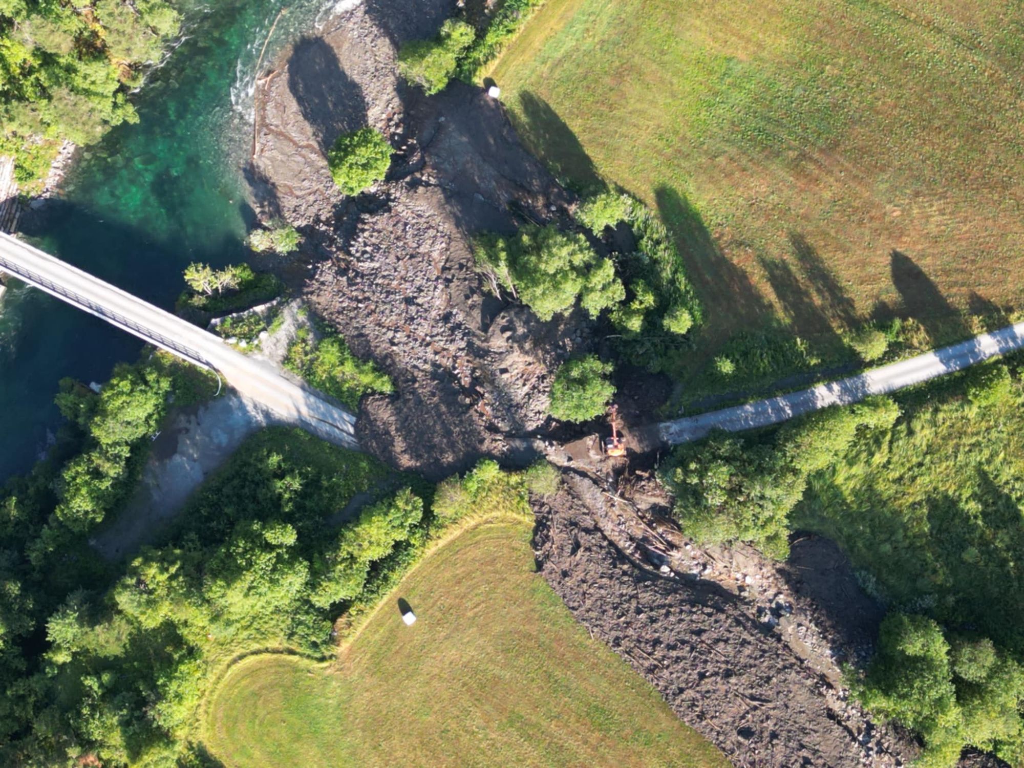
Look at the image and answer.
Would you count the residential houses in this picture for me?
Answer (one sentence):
The picture shows no residential houses.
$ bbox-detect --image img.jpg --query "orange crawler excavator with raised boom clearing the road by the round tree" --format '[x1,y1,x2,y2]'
[606,407,625,457]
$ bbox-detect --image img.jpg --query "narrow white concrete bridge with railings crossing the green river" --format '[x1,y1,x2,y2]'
[0,228,234,371]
